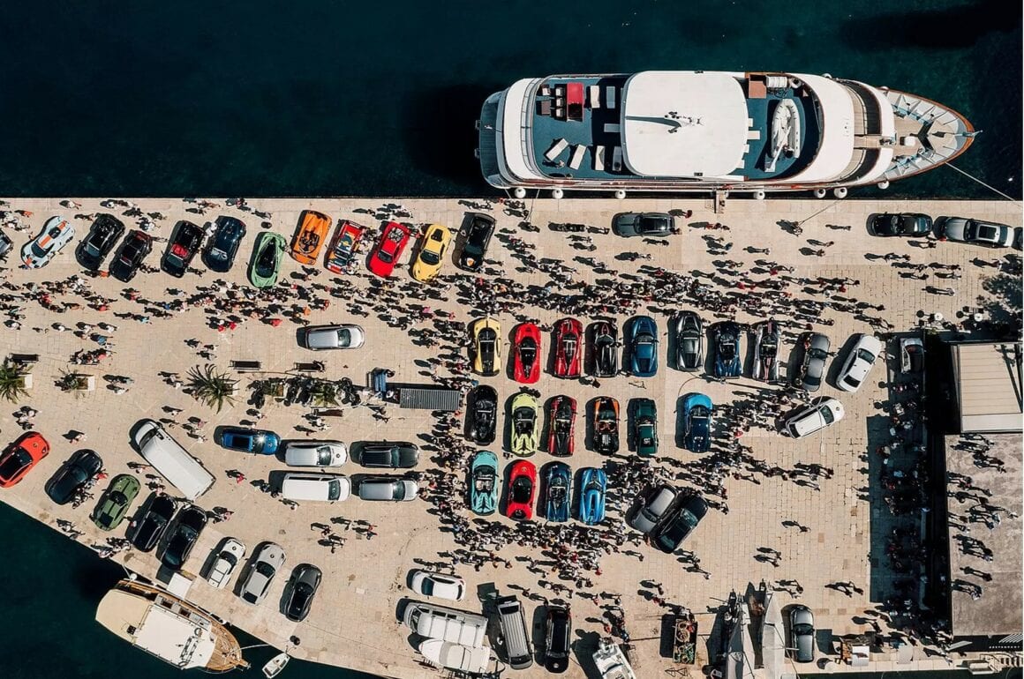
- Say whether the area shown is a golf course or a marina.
marina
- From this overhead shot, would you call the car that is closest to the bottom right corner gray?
Yes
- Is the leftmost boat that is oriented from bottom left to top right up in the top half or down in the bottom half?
bottom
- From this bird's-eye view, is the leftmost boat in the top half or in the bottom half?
bottom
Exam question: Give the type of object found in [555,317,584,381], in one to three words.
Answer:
car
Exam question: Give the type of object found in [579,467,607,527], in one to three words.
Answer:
car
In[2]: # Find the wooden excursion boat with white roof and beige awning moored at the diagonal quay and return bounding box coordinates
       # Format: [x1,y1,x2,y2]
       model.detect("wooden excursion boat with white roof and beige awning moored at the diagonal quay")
[95,576,249,672]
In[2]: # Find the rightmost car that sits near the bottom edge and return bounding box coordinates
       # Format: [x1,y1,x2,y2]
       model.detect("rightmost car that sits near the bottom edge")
[788,604,818,664]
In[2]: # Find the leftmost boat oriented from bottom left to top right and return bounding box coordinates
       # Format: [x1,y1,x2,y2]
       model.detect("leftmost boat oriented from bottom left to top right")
[258,655,288,679]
